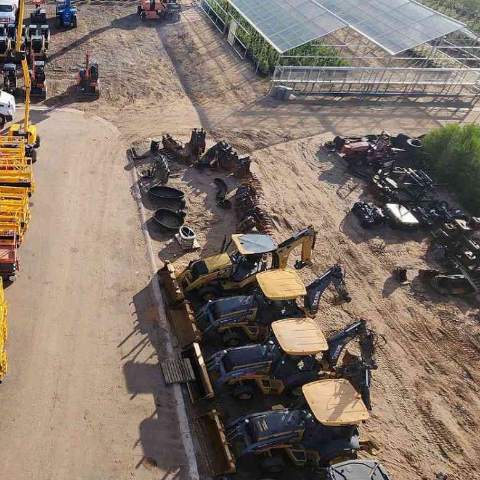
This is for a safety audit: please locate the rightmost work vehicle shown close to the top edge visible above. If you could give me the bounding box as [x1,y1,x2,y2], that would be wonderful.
[162,0,181,21]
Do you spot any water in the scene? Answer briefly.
No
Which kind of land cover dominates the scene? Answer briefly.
paved ground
